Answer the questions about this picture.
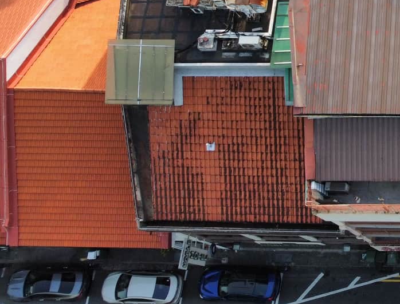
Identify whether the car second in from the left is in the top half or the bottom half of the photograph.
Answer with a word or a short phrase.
bottom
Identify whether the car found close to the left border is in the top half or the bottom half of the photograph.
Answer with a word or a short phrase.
bottom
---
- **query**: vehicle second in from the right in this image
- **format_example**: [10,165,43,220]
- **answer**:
[100,267,187,304]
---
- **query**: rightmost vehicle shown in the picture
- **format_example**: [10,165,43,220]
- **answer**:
[199,265,285,304]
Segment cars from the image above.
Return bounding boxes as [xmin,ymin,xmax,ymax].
[100,267,187,304]
[199,265,285,304]
[4,266,95,304]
